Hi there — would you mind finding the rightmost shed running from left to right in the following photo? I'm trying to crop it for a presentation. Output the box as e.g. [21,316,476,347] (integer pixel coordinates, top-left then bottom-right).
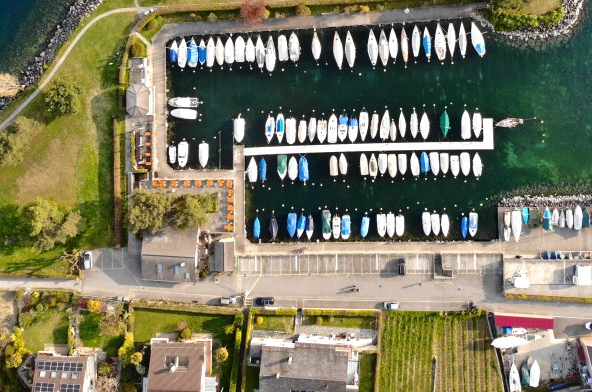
[494,312,554,329]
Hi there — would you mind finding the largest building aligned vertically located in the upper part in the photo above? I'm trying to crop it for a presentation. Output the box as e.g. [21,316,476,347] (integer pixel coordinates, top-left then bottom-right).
[127,58,155,116]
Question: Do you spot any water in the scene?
Yes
